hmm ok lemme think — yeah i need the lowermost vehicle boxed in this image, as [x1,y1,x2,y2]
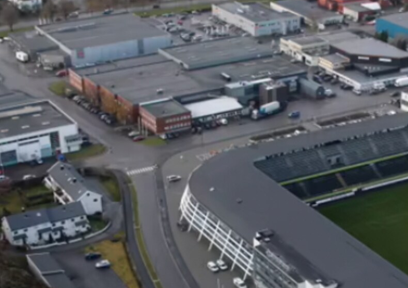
[232,276,248,288]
